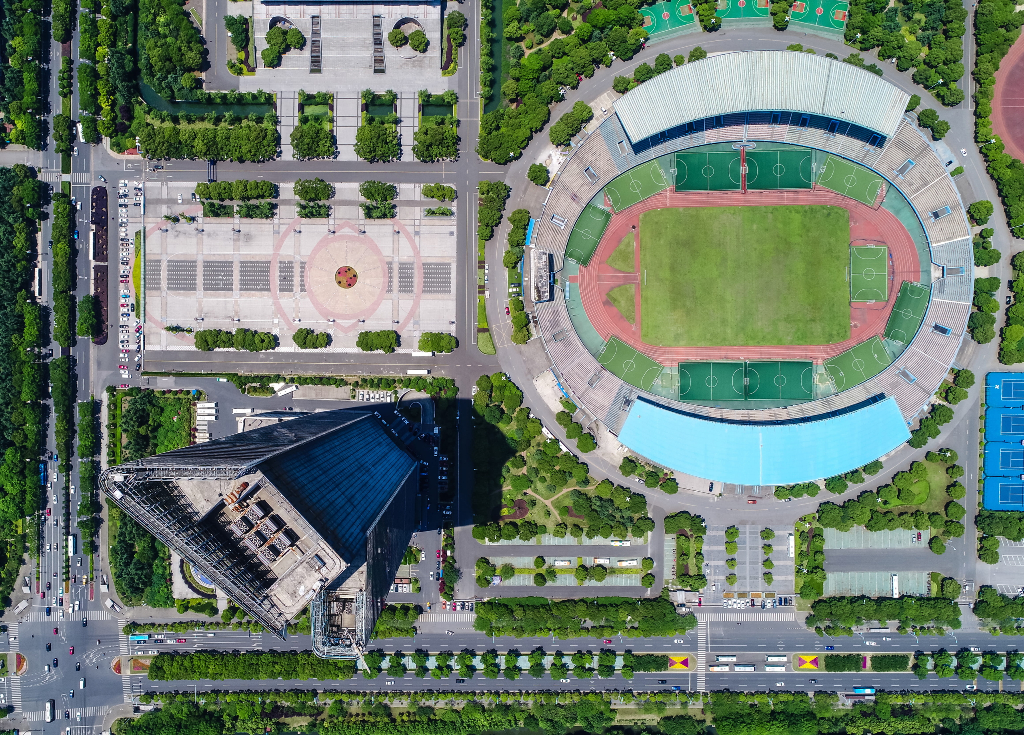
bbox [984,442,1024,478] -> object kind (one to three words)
tennis court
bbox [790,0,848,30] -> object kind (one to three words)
basketball court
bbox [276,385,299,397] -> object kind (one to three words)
vehicle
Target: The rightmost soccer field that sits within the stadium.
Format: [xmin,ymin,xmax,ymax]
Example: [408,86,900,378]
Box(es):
[640,205,850,346]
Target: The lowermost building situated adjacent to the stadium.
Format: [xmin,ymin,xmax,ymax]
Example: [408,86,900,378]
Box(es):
[98,408,417,661]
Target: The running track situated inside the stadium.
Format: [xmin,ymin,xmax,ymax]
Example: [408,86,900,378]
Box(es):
[569,184,920,359]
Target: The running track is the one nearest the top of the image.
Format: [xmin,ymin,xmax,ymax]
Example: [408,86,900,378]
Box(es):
[991,35,1024,157]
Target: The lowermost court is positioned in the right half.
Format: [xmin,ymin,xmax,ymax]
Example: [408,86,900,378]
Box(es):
[983,477,1024,511]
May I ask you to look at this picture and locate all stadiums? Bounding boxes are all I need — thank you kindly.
[522,49,975,487]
